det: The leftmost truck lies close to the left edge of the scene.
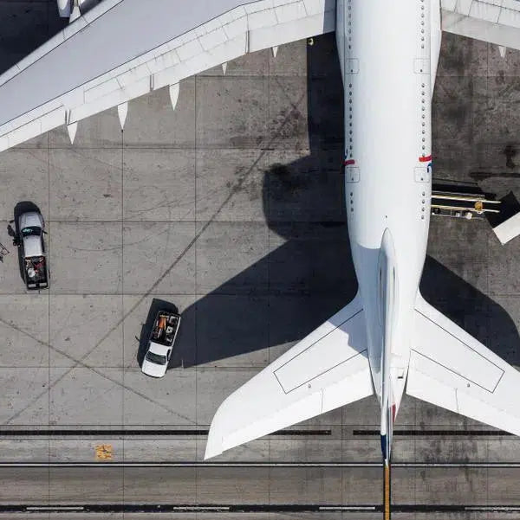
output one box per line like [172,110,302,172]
[15,210,47,290]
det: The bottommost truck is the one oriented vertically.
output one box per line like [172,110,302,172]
[142,308,181,380]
